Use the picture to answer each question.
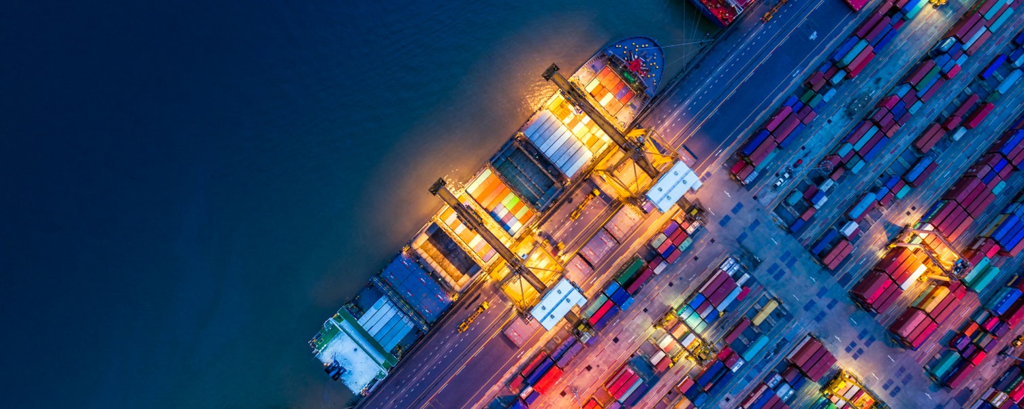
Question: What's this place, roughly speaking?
port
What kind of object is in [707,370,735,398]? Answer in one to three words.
shipping container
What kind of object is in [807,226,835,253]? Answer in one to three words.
shipping container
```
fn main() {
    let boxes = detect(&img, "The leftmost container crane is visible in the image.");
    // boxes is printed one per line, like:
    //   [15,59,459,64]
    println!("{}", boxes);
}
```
[430,177,602,346]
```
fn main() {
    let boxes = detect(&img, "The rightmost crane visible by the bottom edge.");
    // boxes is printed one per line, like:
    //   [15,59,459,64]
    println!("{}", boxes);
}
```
[821,370,885,409]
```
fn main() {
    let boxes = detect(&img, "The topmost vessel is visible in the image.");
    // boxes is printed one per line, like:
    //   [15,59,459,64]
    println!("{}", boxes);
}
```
[688,0,754,27]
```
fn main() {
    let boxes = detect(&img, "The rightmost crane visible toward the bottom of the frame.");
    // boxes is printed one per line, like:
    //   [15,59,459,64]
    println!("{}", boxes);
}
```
[887,223,970,283]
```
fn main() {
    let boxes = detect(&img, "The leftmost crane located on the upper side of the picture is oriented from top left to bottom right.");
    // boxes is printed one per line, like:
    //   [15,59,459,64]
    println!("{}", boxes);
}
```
[544,61,714,232]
